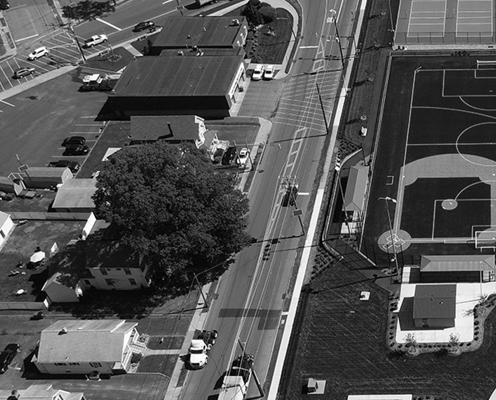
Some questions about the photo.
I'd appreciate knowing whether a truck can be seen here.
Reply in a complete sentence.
Yes, a truck is visible in the scene.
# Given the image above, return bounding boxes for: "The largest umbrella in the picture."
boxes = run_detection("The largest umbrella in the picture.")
[29,252,46,265]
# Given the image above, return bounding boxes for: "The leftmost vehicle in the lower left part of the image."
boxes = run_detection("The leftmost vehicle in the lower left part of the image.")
[0,345,20,374]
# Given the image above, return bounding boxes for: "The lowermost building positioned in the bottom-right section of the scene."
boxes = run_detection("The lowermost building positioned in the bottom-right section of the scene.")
[414,286,456,327]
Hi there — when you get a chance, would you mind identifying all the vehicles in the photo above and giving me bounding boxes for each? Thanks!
[49,158,81,171]
[61,135,86,147]
[263,64,276,81]
[64,146,88,156]
[134,22,154,32]
[13,67,36,78]
[223,146,238,164]
[187,331,222,373]
[82,36,109,47]
[0,0,10,8]
[77,75,110,91]
[0,345,20,374]
[236,148,251,164]
[218,357,253,400]
[280,185,299,207]
[28,45,50,59]
[252,64,266,81]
